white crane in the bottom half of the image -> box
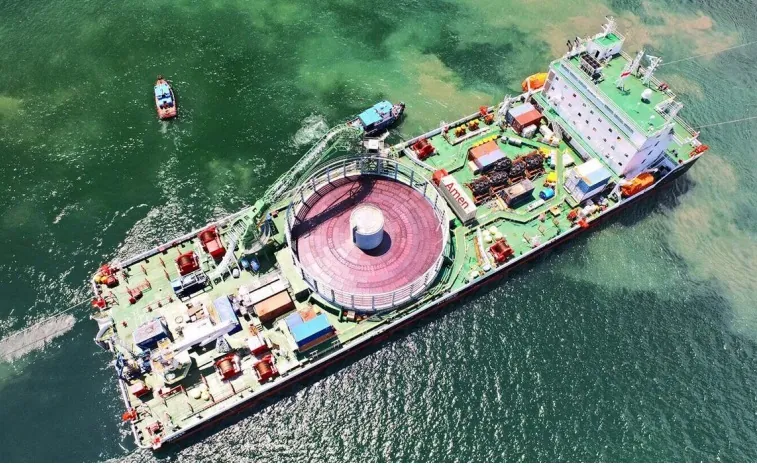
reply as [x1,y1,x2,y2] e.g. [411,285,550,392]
[146,317,244,382]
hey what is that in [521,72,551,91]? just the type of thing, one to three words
boat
